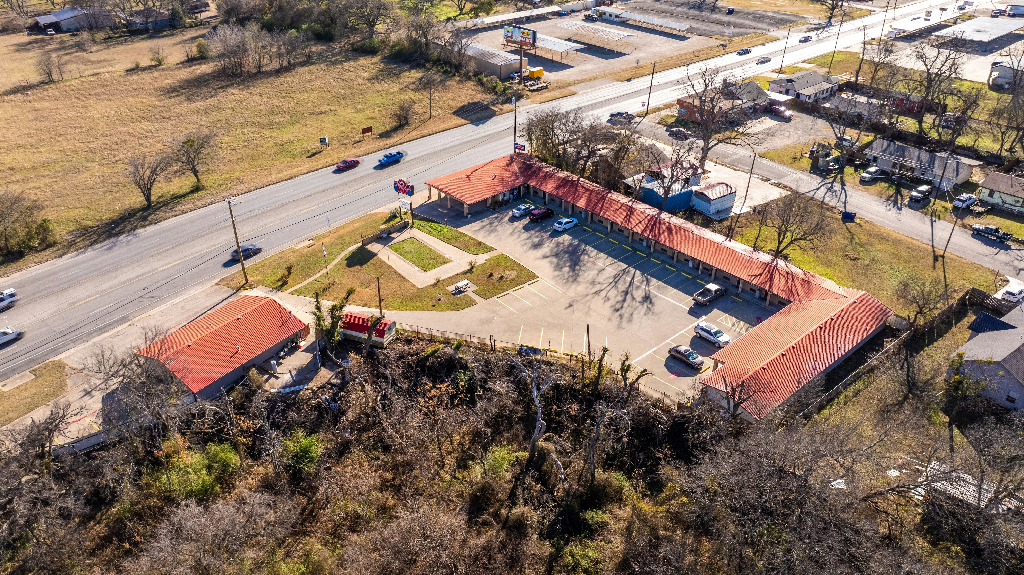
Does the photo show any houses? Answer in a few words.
Yes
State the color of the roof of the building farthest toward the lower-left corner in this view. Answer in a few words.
red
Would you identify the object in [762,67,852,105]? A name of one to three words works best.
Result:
house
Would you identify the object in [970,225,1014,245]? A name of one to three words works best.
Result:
vehicle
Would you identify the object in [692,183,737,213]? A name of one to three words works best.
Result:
shed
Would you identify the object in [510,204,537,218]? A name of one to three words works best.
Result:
car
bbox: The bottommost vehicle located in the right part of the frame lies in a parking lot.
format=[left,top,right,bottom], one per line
[667,345,705,371]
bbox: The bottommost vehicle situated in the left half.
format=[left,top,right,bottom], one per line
[0,327,26,348]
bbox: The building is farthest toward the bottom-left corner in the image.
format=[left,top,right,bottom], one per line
[137,295,306,404]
